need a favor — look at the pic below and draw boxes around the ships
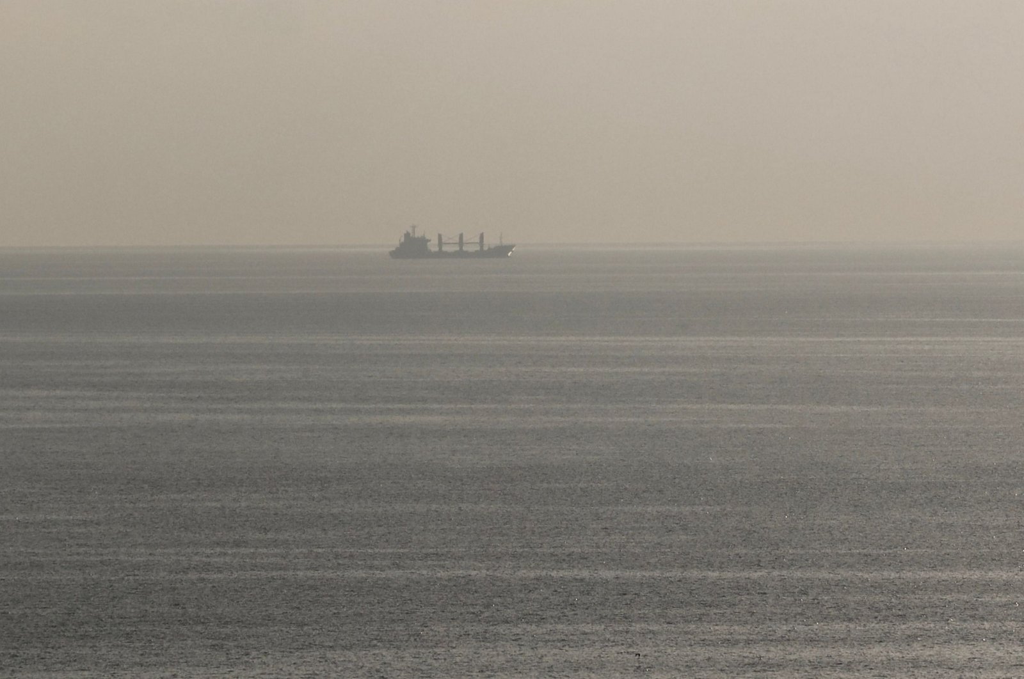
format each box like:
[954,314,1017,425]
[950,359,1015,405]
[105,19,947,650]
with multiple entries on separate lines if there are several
[388,223,515,258]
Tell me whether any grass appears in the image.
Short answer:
No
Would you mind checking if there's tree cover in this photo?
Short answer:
No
